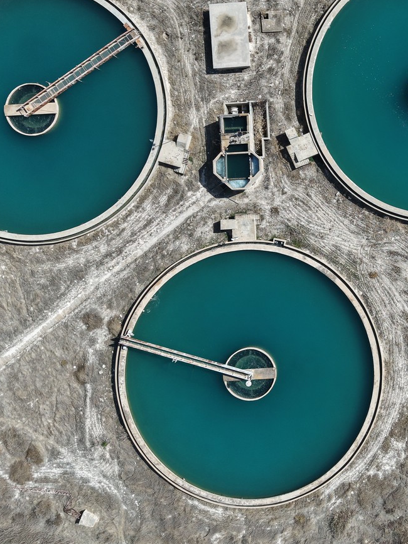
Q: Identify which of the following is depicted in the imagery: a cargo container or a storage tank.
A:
storage tank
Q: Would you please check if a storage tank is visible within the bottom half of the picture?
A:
Yes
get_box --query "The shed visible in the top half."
[209,2,252,72]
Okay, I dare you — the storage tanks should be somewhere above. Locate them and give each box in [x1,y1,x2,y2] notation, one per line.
[0,0,173,247]
[114,231,386,510]
[300,0,408,223]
